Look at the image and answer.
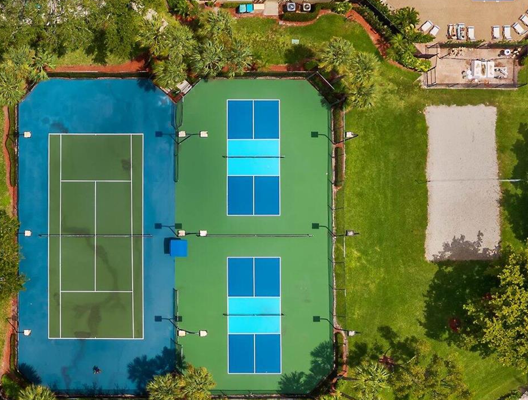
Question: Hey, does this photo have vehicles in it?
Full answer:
No, the picture doesn't show any vehicle.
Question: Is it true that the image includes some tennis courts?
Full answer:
Yes, the image includes a tennis court.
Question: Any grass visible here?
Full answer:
Yes, there's grass in this view.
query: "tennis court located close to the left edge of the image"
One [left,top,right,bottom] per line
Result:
[17,79,176,397]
